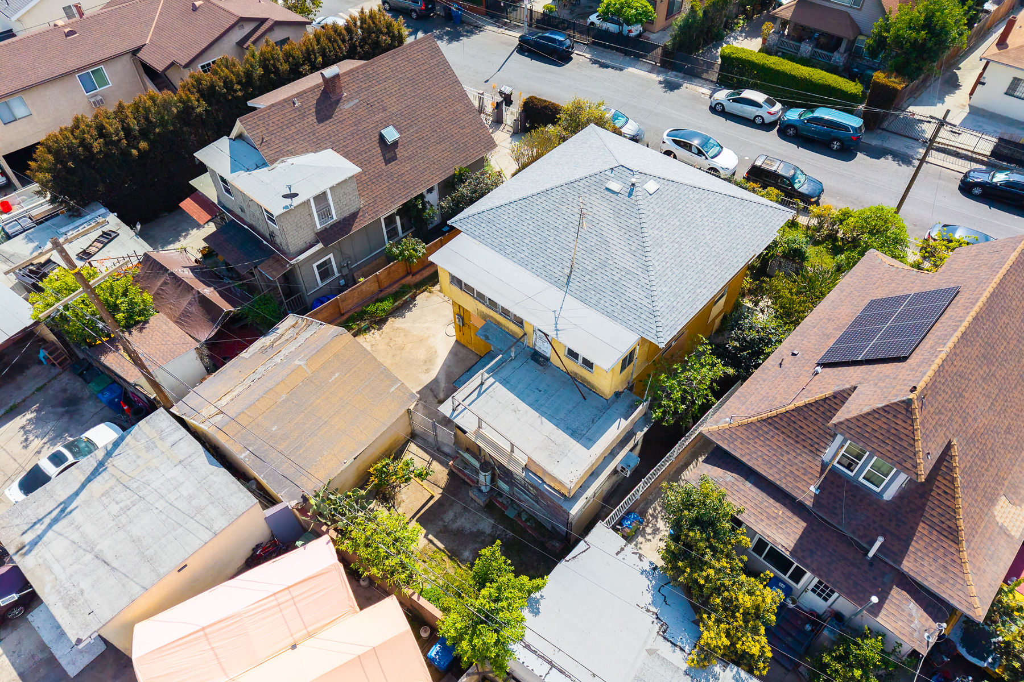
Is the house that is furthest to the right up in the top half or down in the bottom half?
top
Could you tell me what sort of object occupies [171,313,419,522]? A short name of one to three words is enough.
building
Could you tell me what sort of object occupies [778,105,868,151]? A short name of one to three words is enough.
car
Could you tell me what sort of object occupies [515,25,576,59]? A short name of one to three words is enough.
car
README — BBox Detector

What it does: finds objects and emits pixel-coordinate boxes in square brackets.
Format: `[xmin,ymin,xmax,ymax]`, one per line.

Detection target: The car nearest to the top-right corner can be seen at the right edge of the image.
[962,167,1024,207]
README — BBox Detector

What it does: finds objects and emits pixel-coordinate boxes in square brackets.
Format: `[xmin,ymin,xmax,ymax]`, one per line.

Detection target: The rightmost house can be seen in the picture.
[964,11,1024,125]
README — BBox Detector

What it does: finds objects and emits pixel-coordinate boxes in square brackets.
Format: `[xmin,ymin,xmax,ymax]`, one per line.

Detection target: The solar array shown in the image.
[814,293,949,369]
